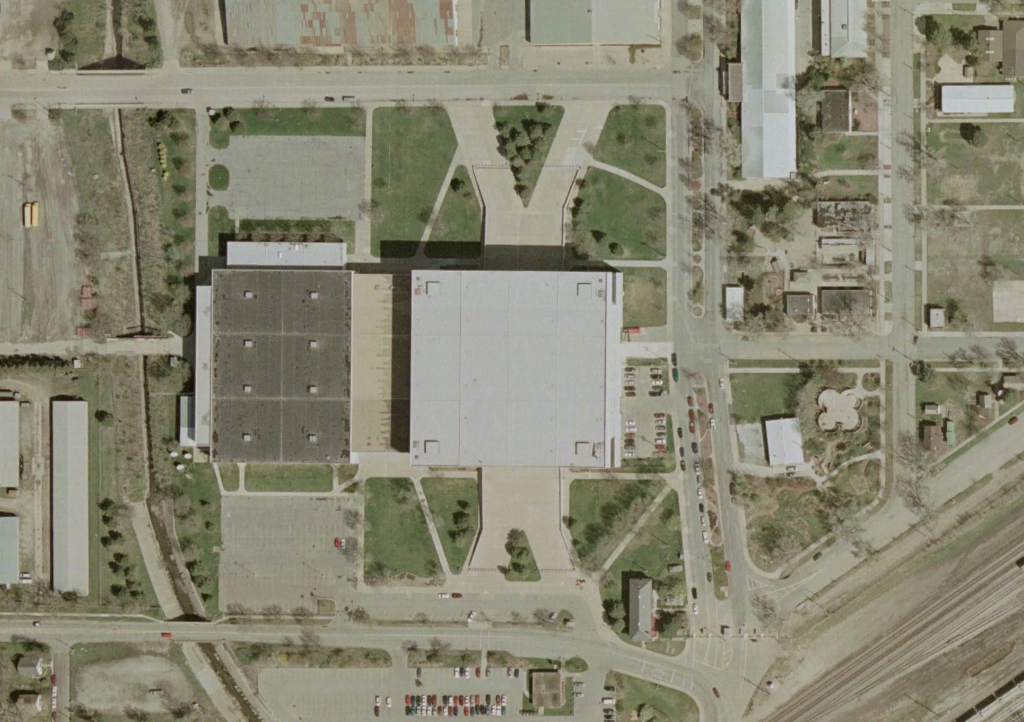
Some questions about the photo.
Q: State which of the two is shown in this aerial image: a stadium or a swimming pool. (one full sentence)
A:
The image shows a stadium.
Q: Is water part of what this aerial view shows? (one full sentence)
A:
No, the picture contains no water.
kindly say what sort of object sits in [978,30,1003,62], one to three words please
house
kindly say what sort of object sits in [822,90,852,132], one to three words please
building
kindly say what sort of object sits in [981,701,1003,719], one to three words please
rail car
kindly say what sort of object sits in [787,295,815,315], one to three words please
building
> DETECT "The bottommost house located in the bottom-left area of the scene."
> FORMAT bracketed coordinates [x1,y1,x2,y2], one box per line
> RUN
[14,695,40,715]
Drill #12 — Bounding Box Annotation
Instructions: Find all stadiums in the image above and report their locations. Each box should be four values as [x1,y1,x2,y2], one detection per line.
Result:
[410,270,621,468]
